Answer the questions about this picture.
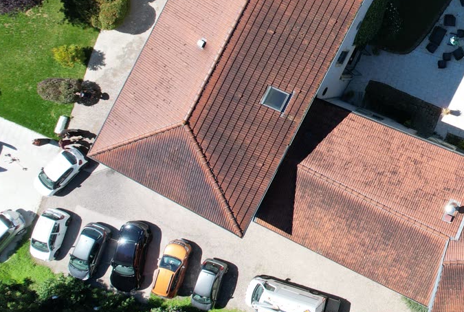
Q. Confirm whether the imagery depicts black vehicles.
Yes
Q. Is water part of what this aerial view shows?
No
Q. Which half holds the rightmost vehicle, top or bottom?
bottom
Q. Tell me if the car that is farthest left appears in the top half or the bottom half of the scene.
bottom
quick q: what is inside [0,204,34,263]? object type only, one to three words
car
